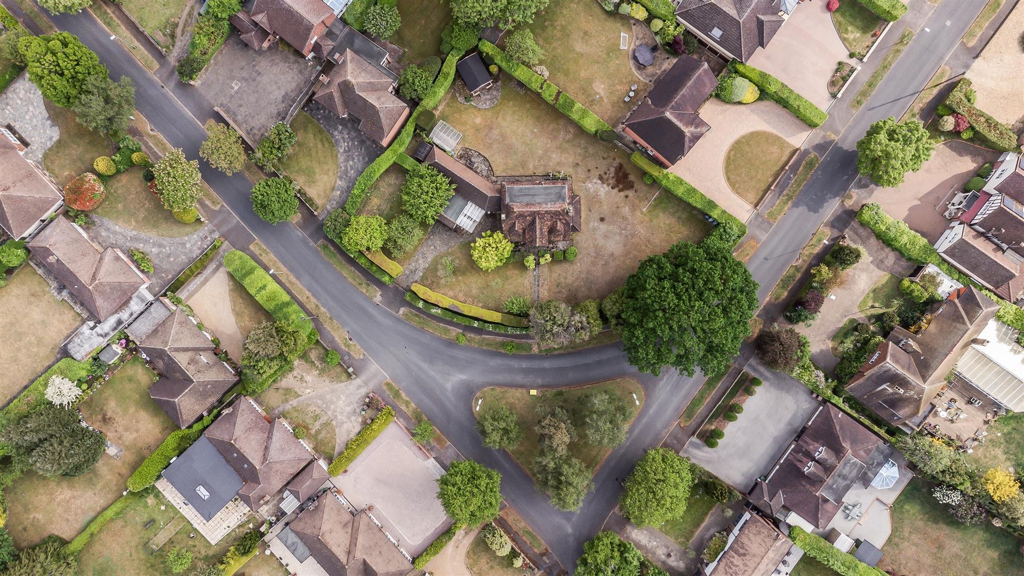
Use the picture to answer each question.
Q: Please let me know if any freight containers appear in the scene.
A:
No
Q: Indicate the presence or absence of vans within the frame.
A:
No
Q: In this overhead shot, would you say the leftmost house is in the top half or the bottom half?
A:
top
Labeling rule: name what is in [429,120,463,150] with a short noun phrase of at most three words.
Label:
greenhouse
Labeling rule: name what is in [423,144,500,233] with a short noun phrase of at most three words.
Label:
shed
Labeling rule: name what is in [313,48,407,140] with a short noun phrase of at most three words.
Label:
house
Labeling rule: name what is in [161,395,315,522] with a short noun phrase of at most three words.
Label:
house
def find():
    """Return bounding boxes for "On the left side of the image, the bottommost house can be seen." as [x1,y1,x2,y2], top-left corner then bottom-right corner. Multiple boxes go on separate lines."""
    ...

[277,488,414,576]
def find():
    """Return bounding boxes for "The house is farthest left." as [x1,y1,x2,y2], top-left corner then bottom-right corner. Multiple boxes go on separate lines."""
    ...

[0,123,75,241]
